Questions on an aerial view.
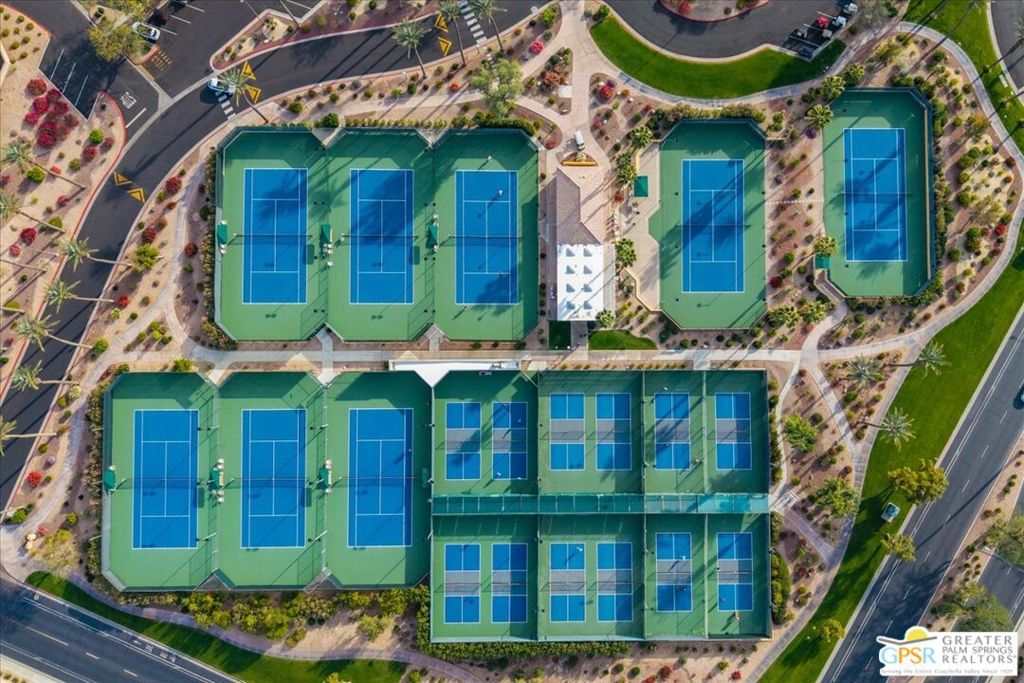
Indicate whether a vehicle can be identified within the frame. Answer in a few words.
Yes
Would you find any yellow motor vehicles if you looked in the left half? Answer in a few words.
No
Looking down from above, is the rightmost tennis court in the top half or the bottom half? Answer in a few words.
top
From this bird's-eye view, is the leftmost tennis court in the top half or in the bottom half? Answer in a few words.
bottom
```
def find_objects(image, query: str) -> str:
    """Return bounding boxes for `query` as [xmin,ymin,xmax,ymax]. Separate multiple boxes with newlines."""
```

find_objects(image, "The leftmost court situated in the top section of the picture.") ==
[222,131,325,340]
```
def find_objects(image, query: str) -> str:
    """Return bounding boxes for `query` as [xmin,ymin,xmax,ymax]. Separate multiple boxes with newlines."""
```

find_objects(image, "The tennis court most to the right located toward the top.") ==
[822,92,927,296]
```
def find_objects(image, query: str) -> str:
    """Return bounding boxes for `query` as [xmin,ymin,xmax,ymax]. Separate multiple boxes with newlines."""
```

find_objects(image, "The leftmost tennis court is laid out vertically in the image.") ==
[111,374,216,586]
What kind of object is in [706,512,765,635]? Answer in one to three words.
sports court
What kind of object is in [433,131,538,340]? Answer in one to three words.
tennis court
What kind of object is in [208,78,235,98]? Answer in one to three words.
car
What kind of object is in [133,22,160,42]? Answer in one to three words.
car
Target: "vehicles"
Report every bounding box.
[814,14,832,30]
[208,78,235,98]
[573,134,584,151]
[149,7,177,27]
[818,26,837,41]
[831,14,850,29]
[843,1,862,17]
[793,24,812,39]
[797,44,816,59]
[133,22,160,42]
